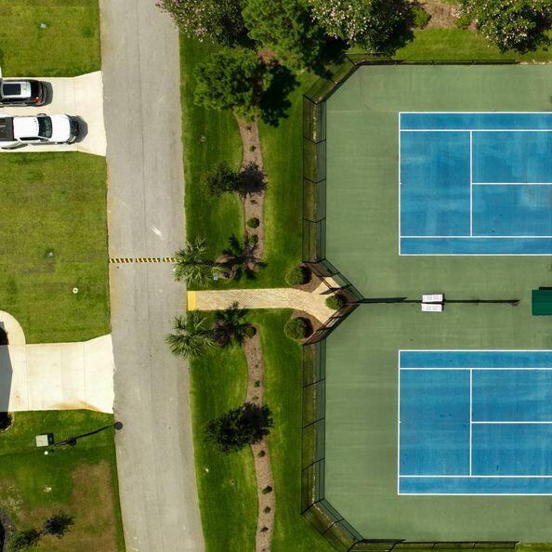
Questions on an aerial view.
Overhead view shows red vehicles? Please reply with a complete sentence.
No, I can see no red vehicle in this picture.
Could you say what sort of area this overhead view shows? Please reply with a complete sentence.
It's a sports ground.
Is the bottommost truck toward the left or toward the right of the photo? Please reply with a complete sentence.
The bottommost truck appears in the left half of the scene.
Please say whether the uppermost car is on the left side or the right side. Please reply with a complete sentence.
The uppermost car sits on the left side.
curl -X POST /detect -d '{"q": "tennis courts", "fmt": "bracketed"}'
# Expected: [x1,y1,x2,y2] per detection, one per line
[316,63,552,300]
[314,300,552,542]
